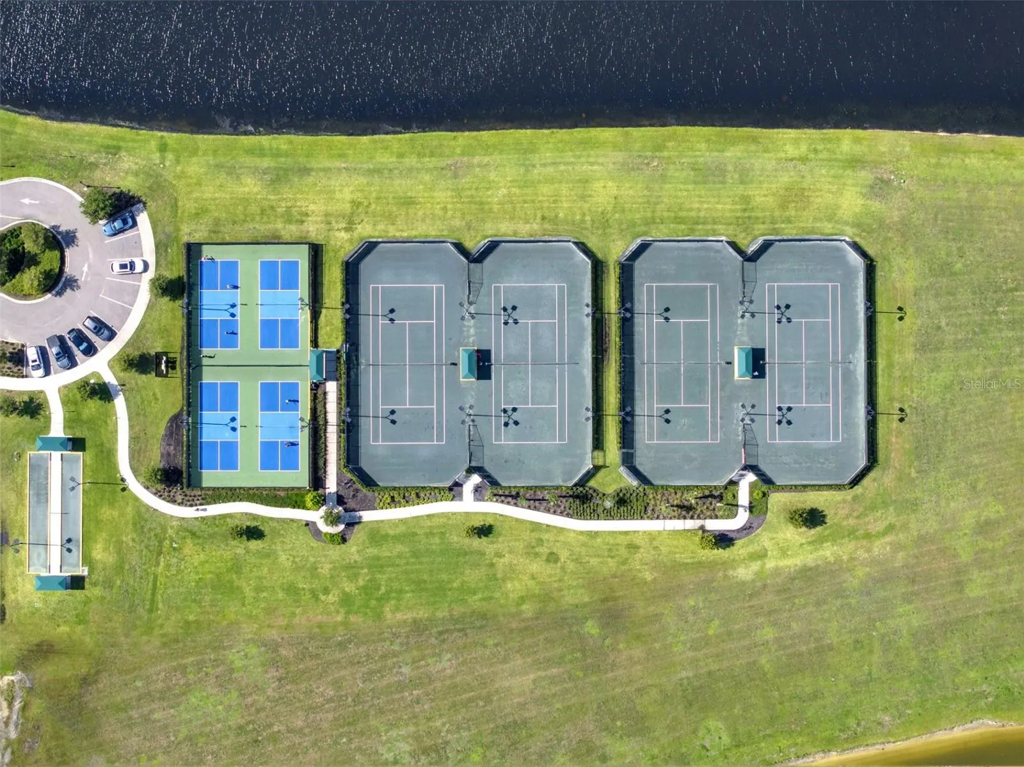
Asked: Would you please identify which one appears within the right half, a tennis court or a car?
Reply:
tennis court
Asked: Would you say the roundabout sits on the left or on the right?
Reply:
left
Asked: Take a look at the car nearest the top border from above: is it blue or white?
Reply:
blue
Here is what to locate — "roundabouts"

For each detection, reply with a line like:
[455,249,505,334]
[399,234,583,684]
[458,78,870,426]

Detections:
[0,176,144,378]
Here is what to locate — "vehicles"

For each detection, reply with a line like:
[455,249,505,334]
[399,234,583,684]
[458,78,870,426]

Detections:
[83,314,113,341]
[24,345,44,379]
[102,213,134,234]
[64,327,94,357]
[44,332,70,371]
[110,258,143,274]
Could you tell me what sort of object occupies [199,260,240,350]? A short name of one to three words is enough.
sports court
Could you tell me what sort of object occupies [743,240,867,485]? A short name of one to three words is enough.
tennis court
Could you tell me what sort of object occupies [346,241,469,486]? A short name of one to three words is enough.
tennis court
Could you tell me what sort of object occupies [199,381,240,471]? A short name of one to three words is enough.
sports court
